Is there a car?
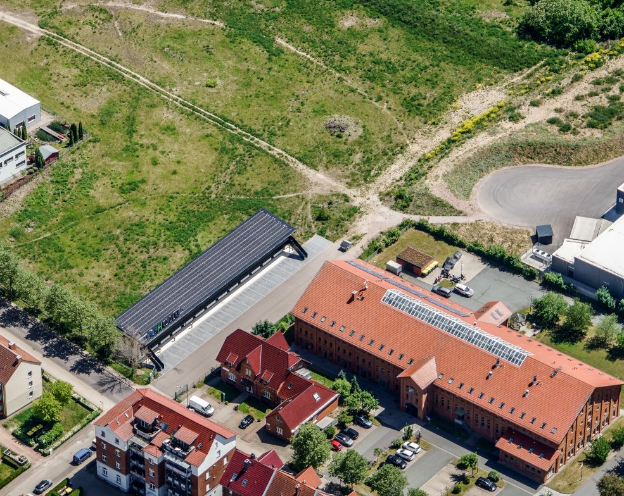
Yes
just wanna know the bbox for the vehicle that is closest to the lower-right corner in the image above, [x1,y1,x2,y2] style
[473,470,499,487]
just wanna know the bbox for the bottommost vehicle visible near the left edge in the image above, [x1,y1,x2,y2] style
[31,473,53,490]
